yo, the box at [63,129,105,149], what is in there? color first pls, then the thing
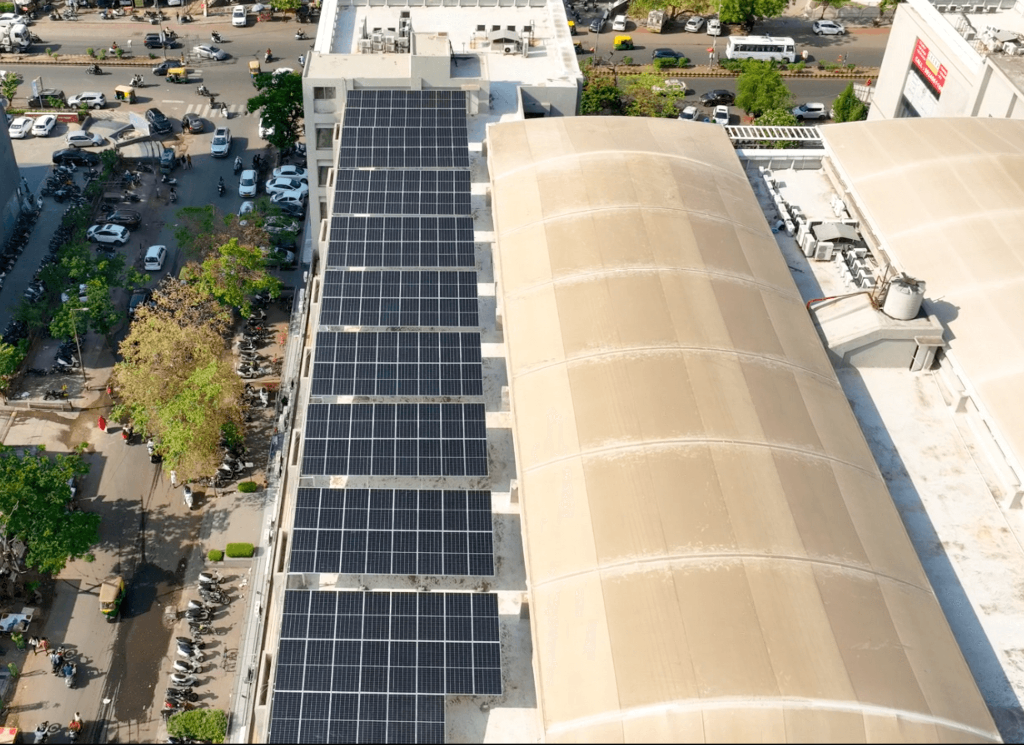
gray car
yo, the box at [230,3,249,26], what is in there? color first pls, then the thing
white car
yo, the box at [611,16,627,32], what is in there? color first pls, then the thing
white car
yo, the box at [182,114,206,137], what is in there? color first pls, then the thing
gray car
